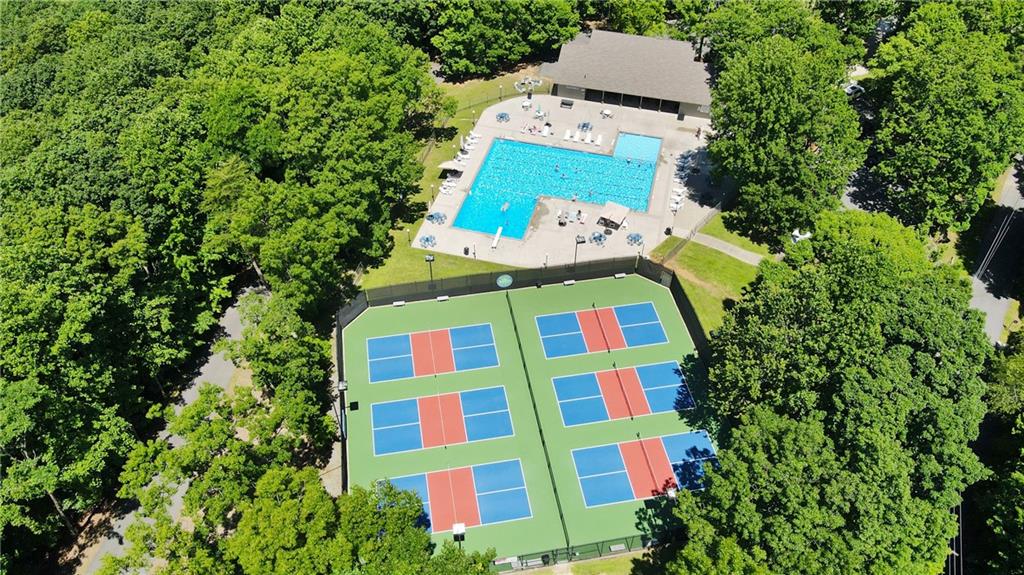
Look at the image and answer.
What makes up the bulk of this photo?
trees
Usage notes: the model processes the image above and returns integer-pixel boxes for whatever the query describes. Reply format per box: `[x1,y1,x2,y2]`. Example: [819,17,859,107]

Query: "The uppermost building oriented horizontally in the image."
[551,30,713,117]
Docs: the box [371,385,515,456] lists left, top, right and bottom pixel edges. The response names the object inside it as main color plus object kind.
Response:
blue sports court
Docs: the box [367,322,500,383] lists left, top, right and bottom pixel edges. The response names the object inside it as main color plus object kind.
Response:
blue sports court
